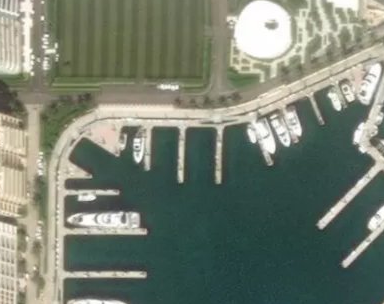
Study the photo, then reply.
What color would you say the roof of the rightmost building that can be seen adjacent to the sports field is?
white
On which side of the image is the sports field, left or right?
left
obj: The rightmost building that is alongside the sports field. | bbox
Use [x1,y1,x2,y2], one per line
[236,0,292,58]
